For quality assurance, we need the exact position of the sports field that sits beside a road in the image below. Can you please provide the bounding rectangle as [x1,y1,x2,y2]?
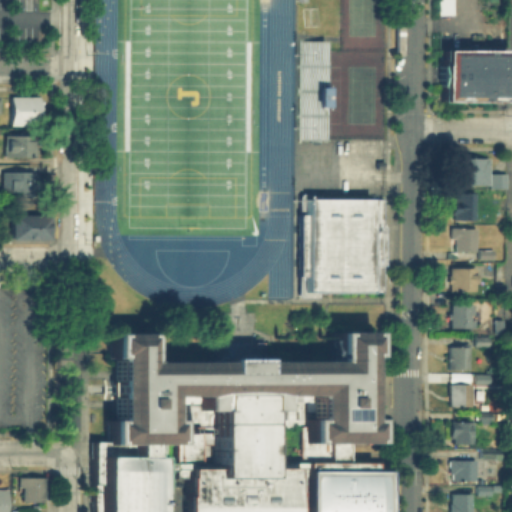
[117,0,260,236]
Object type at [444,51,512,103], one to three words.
building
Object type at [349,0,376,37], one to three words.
tennis court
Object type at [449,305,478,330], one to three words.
house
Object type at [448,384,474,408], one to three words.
house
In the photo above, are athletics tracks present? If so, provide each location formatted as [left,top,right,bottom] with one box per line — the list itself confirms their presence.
[97,0,296,303]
